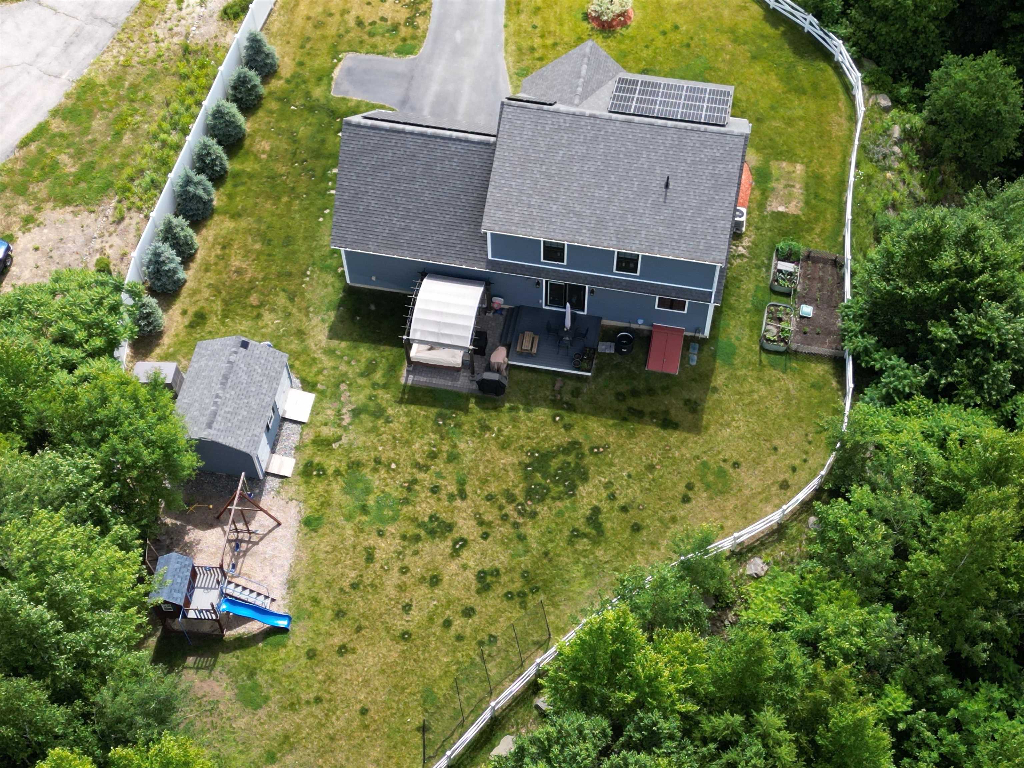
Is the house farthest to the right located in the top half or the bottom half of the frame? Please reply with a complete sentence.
The house farthest to the right sits in the top half of the picture.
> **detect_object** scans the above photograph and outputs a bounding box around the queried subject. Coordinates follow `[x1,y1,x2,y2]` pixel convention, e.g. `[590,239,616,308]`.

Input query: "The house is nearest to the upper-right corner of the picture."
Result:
[329,36,748,344]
